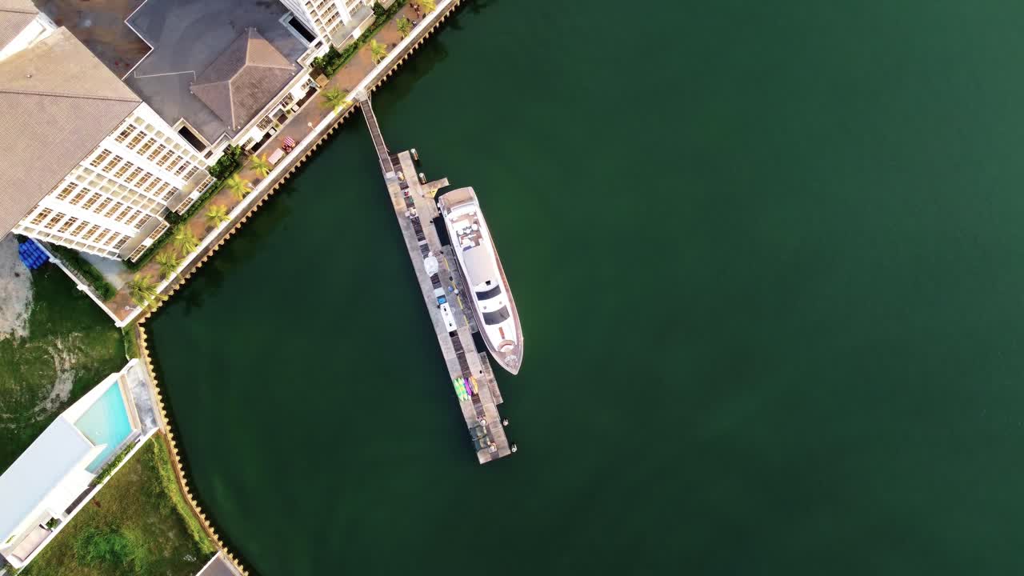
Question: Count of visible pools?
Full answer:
My tally gives 1 pool in this photo.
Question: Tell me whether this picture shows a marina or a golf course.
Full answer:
The picture captures a marina.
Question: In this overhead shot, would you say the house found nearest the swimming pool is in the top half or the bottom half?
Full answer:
The bottom half of the photo is where the house found nearest the swimming pool is.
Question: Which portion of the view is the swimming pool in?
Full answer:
The swimming pool is located in the bottom left region of the scene.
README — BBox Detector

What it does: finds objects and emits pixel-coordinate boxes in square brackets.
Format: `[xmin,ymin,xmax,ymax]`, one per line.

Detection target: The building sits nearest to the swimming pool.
[0,413,109,570]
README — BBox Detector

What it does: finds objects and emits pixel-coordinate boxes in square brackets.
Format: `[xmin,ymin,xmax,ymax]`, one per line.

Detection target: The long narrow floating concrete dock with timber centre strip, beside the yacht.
[381,150,512,464]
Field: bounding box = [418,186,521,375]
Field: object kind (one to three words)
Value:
boat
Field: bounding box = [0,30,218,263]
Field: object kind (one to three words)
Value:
building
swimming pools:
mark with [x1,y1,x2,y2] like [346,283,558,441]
[82,375,145,477]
